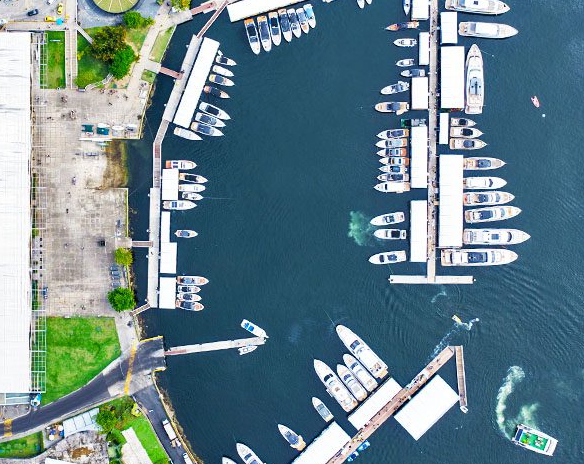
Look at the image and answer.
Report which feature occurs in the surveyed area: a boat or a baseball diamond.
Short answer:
boat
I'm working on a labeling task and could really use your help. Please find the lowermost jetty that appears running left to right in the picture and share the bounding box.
[165,337,265,355]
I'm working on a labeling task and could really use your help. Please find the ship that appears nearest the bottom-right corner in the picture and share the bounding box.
[507,423,559,455]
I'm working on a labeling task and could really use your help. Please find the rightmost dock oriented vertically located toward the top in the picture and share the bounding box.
[427,0,440,276]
